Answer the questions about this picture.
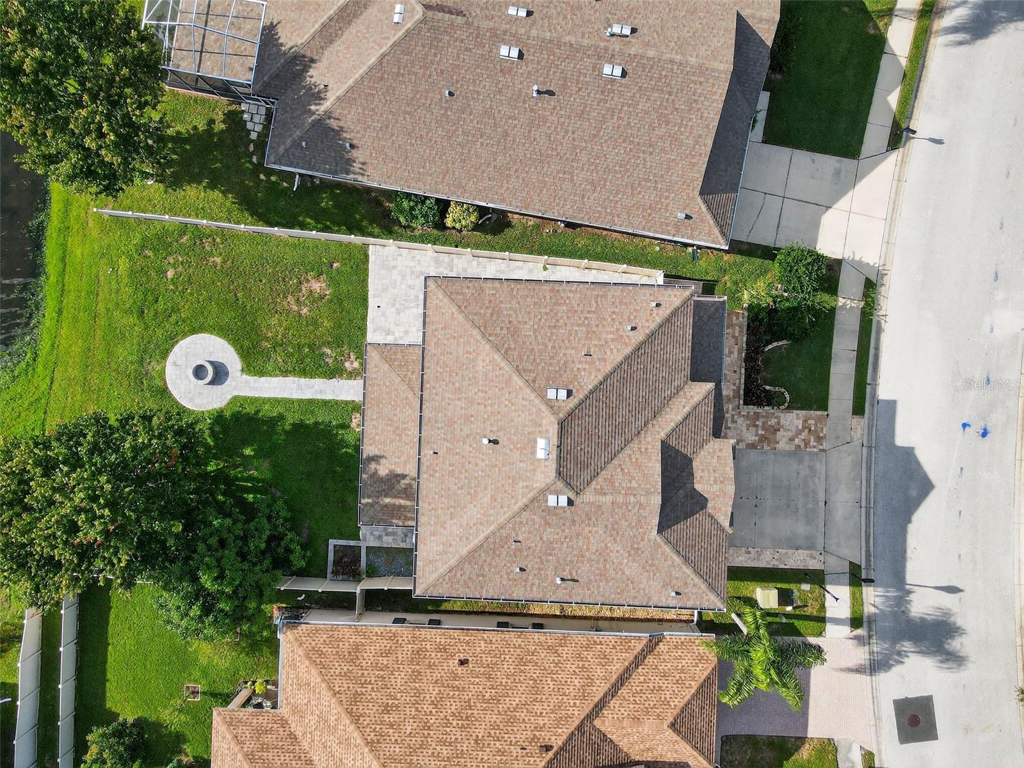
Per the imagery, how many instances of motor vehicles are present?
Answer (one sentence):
The count of motor vehicles is 0.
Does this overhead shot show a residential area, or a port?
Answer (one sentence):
It's a residential area.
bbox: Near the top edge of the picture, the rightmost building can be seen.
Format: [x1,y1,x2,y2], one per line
[251,0,784,252]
